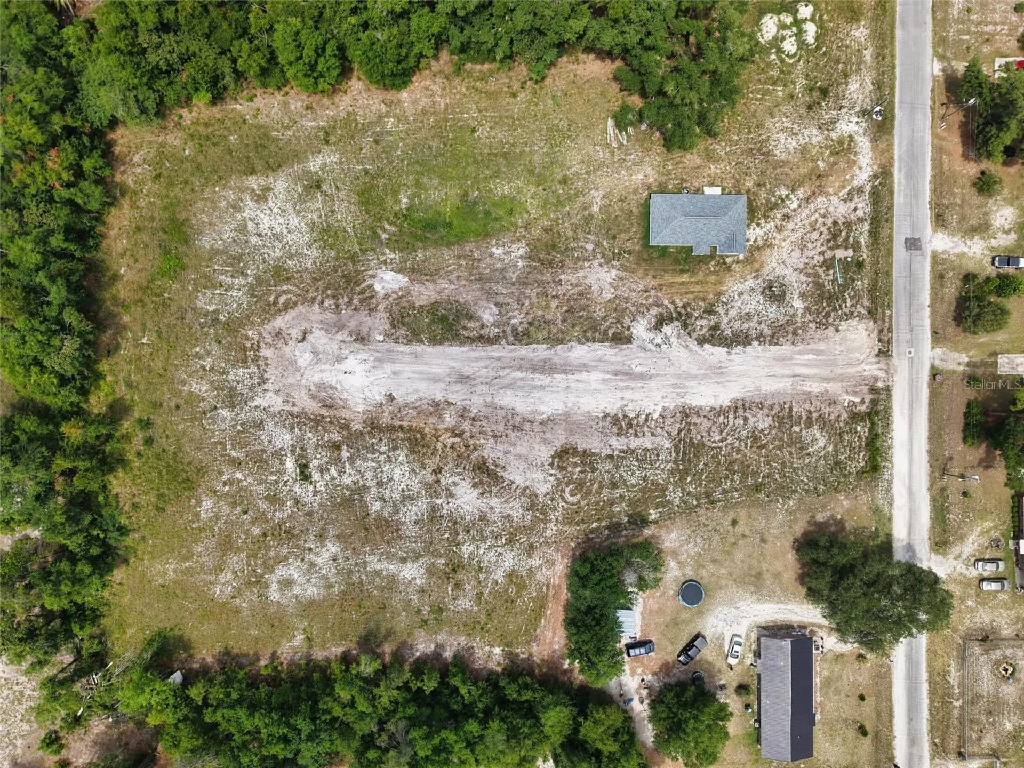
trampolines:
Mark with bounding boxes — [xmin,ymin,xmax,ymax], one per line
[679,581,705,606]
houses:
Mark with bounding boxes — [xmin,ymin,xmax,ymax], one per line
[649,194,747,256]
[757,632,815,763]
[1013,497,1024,590]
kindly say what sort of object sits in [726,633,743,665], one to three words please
car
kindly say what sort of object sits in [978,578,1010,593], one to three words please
car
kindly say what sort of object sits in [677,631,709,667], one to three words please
truck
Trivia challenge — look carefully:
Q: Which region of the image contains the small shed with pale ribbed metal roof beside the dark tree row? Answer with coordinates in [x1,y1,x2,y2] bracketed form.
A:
[617,606,637,638]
